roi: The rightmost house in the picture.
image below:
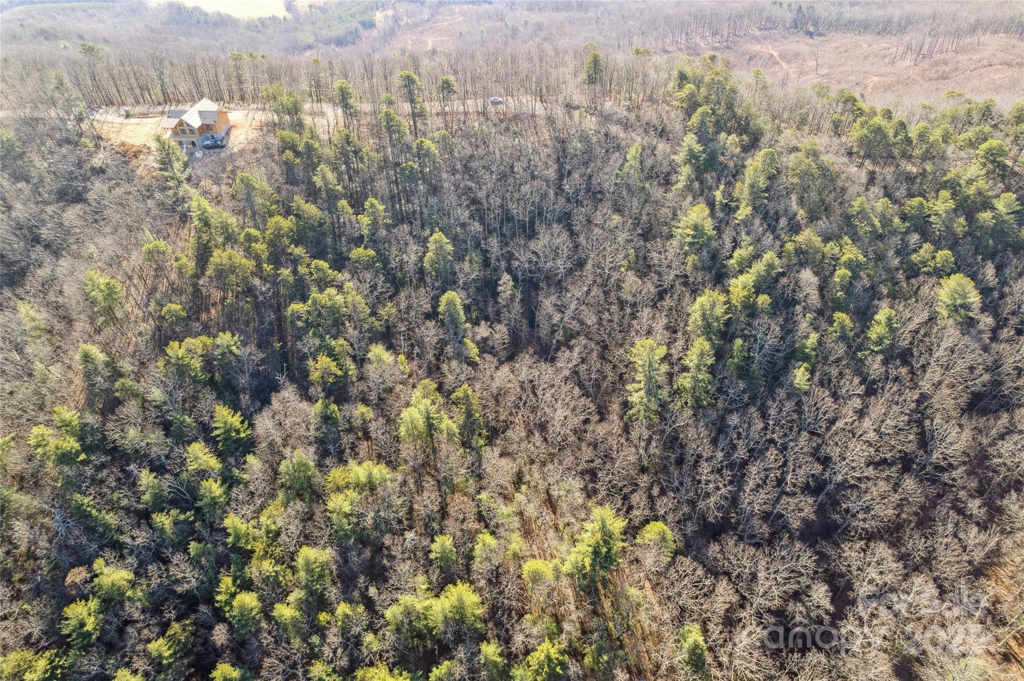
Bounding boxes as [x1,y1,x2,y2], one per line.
[159,100,226,150]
